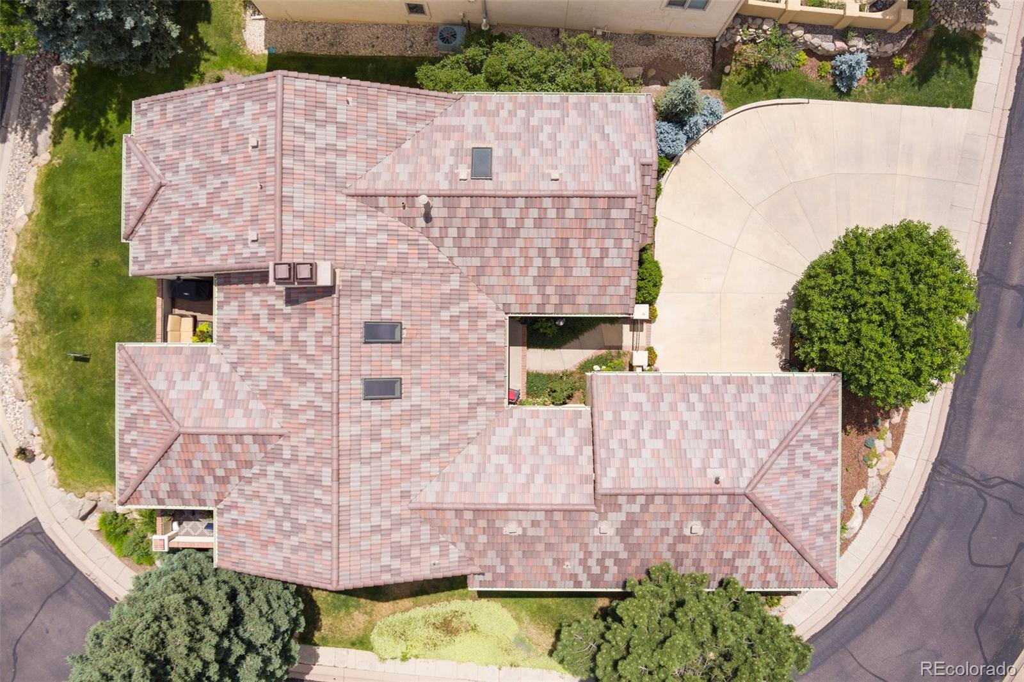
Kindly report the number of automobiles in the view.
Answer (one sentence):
There are no automobiles in the image.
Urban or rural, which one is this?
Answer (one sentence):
From above, the setting appears urban.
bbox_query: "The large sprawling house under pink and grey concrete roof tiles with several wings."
[111,67,845,594]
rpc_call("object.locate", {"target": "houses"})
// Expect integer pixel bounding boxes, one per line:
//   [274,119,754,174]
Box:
[111,67,845,594]
[252,0,742,39]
